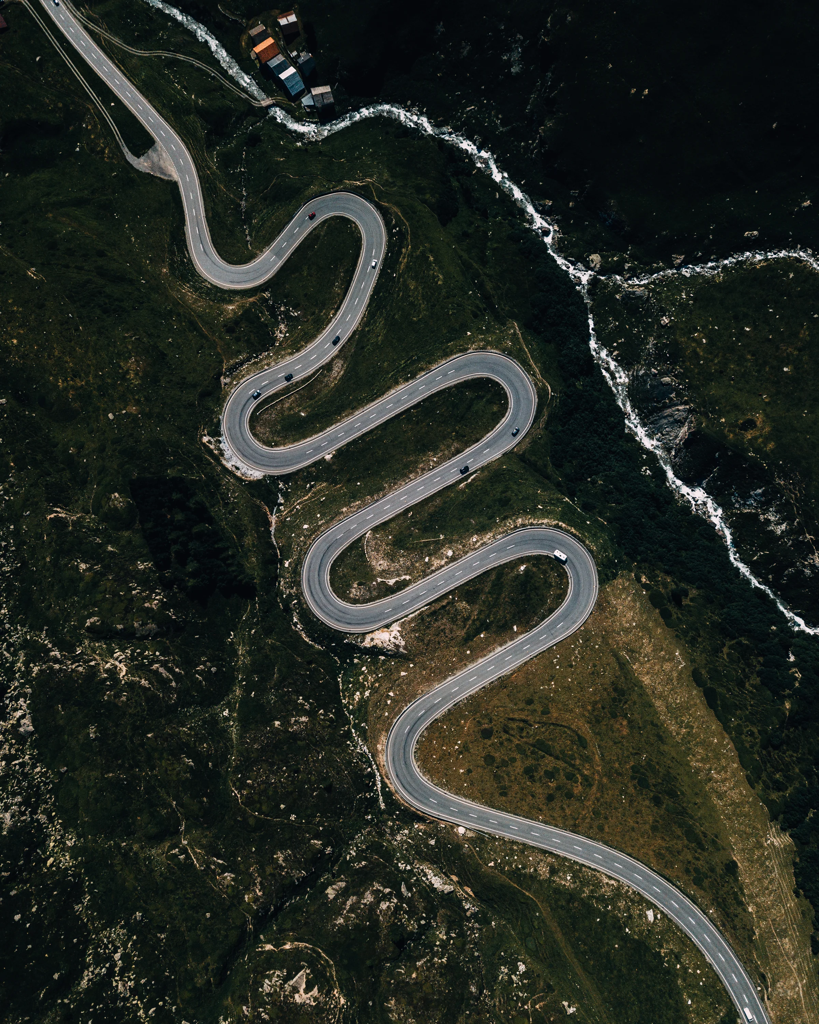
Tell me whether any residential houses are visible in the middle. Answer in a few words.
No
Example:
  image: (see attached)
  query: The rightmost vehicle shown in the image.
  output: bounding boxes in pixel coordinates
[741,1004,753,1020]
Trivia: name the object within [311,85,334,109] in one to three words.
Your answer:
barn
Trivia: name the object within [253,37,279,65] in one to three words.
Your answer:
house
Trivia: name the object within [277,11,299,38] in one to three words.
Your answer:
barn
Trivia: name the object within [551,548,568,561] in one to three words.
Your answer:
vehicle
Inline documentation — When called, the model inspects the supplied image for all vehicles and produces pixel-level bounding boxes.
[251,389,262,398]
[371,259,377,268]
[283,373,293,380]
[458,465,471,474]
[551,548,568,561]
[741,1004,753,1020]
[511,426,520,436]
[307,211,316,219]
[331,335,341,344]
